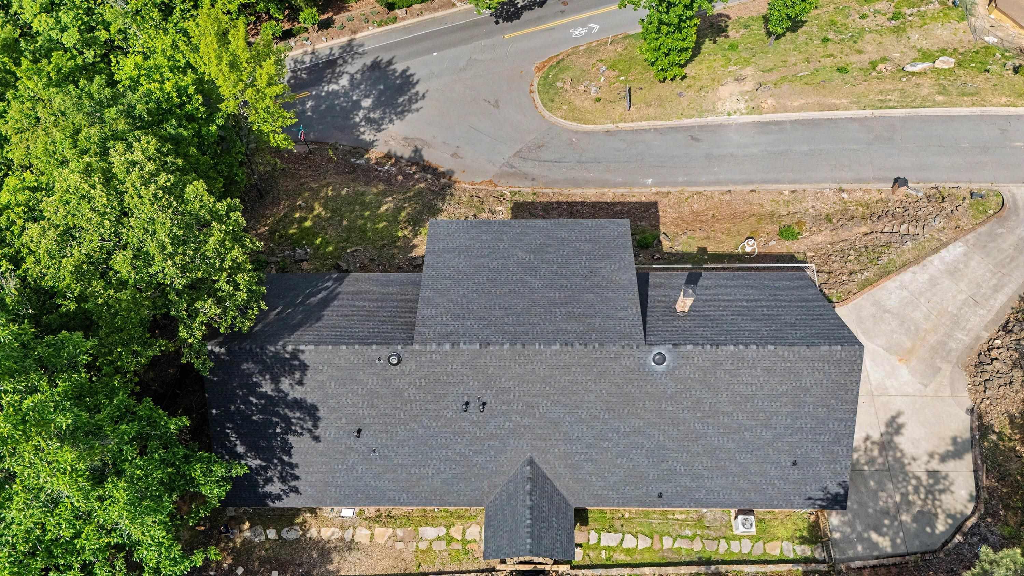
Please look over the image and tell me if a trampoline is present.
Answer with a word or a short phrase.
No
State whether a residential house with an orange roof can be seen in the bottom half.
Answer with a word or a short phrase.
No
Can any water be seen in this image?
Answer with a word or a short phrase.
No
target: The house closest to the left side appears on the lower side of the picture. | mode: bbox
[201,220,865,560]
